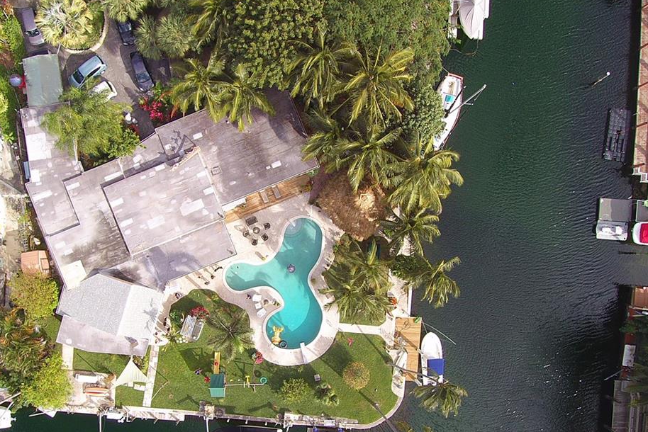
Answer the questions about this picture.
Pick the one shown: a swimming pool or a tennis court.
swimming pool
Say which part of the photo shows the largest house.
left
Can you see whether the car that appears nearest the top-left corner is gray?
Yes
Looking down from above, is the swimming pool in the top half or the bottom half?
bottom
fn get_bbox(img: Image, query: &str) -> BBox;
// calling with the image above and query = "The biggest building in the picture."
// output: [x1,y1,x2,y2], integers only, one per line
[20,90,319,356]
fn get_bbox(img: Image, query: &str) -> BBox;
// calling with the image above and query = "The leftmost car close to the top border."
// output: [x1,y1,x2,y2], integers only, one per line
[17,4,45,48]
